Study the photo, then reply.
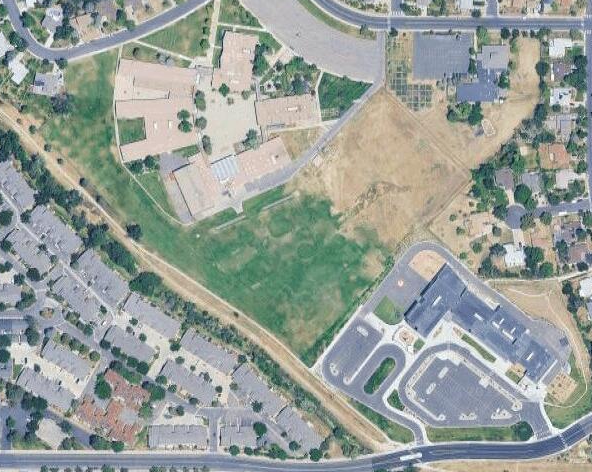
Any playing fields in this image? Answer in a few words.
Yes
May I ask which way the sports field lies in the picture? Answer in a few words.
on a diagonal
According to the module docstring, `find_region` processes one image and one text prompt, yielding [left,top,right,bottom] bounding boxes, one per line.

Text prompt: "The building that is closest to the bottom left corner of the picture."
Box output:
[34,417,68,450]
